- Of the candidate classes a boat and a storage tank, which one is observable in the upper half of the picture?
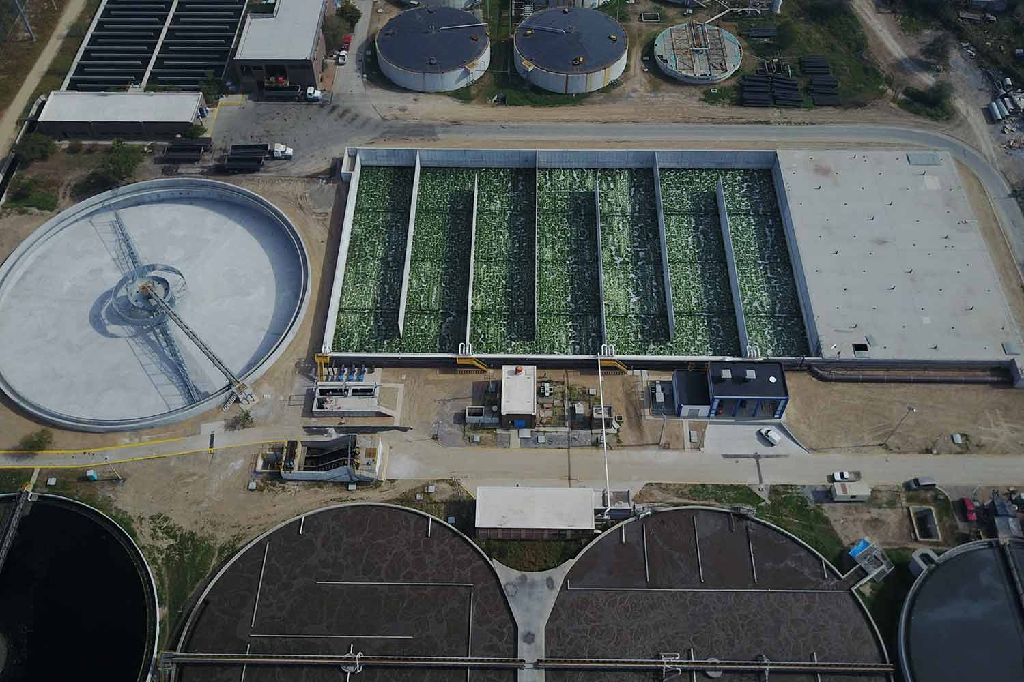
storage tank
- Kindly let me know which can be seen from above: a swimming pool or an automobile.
automobile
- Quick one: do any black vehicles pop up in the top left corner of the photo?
Yes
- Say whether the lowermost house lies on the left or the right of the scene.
right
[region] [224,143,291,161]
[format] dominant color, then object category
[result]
black vehicle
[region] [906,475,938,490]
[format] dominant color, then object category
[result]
gray vehicle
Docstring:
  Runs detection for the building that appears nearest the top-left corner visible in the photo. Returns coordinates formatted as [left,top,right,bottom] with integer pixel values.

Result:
[39,90,204,142]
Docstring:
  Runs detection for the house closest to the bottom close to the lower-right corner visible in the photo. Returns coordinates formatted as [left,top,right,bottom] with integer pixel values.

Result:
[845,539,896,590]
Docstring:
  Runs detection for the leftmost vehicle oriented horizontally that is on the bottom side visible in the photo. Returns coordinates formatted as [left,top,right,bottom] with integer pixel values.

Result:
[831,469,861,481]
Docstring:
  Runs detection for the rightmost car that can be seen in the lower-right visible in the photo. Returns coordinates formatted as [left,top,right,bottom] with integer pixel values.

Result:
[959,497,977,521]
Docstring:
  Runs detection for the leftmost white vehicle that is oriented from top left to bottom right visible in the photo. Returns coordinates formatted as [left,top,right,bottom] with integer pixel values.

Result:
[760,425,783,445]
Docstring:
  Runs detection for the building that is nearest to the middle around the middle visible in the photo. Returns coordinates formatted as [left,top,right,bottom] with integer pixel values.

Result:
[502,364,537,426]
